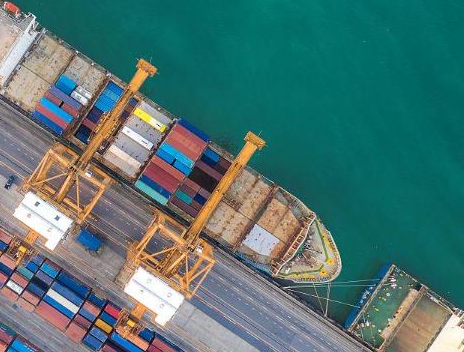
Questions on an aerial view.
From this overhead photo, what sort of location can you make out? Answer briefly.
port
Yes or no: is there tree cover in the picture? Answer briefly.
No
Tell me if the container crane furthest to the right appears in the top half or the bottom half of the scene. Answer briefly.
bottom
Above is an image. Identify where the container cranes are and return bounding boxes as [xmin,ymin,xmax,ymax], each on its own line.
[3,55,159,268]
[111,129,273,342]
